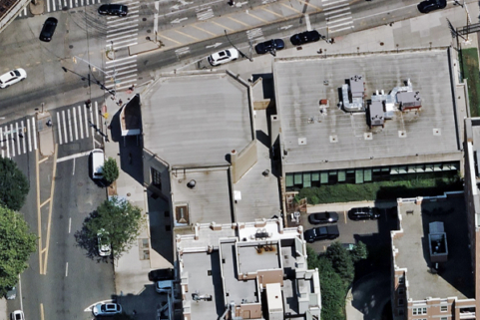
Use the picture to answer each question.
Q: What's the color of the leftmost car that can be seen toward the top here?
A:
white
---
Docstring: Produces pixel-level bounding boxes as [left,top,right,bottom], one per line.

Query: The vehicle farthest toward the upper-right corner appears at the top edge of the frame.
[416,0,448,14]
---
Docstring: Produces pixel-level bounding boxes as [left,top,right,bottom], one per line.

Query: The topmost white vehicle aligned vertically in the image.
[89,149,104,184]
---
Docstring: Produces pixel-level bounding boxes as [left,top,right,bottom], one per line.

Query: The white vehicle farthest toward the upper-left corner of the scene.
[0,68,28,89]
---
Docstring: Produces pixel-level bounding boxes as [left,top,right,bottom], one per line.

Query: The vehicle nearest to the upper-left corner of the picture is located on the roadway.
[39,16,57,43]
